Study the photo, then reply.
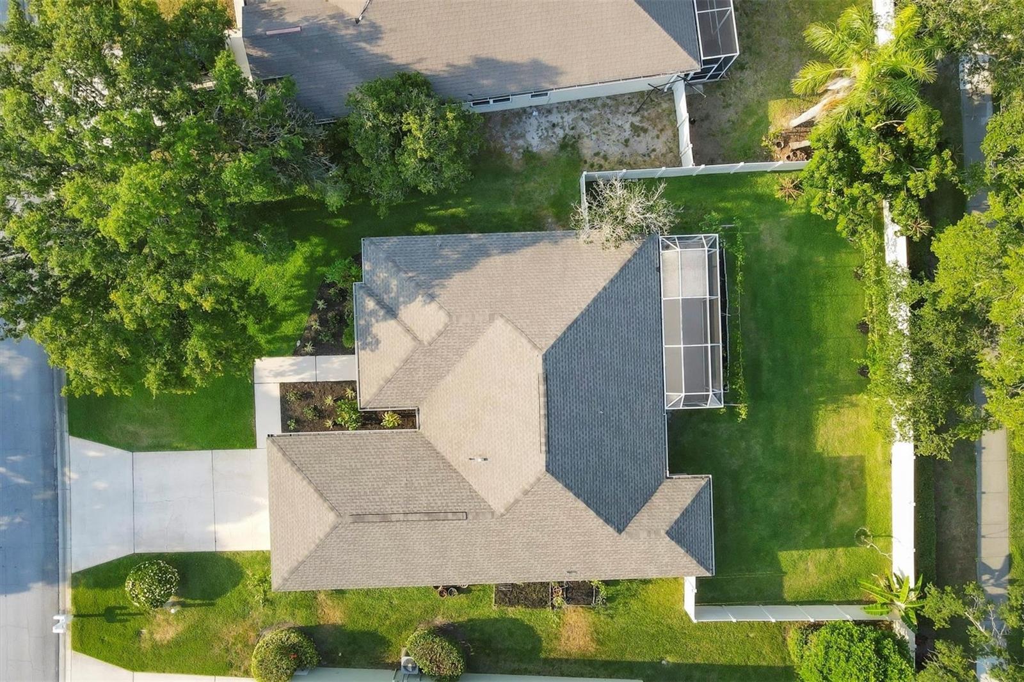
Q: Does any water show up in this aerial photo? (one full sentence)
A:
No, there is no water in the image.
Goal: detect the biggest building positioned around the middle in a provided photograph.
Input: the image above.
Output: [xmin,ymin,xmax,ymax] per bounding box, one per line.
[266,229,717,591]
